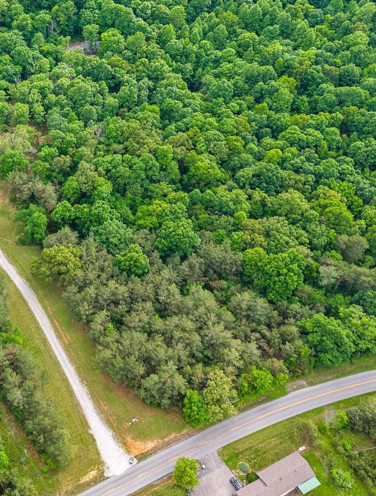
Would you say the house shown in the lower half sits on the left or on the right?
right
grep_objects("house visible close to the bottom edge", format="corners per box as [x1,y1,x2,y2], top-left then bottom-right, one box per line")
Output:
[234,450,320,496]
